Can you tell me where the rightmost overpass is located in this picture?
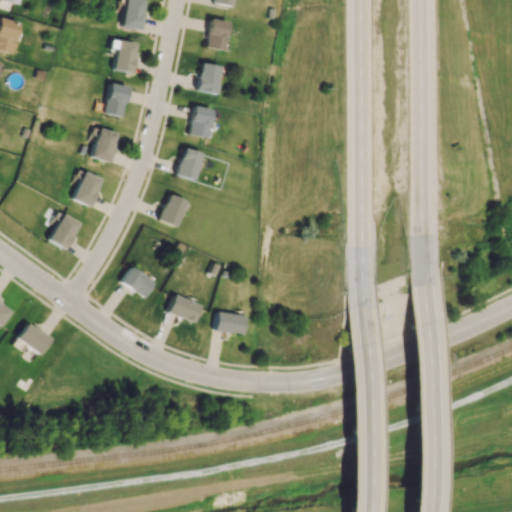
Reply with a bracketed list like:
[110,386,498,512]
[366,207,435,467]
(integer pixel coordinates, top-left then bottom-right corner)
[410,235,454,512]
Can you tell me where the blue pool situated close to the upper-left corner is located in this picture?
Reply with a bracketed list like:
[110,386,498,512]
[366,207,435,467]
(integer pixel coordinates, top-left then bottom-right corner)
[2,72,25,90]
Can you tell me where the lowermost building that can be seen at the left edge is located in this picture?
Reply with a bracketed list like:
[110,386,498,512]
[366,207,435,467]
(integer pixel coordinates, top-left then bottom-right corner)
[18,323,52,355]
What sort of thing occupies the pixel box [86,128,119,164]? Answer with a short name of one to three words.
house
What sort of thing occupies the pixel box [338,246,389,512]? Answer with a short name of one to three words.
overpass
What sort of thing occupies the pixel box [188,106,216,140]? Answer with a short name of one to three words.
house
